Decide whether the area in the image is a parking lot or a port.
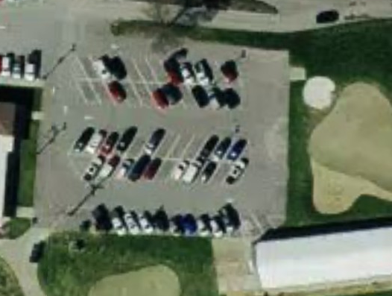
parking lot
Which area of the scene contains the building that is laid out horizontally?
bottom right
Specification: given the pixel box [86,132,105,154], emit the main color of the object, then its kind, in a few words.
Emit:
white car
